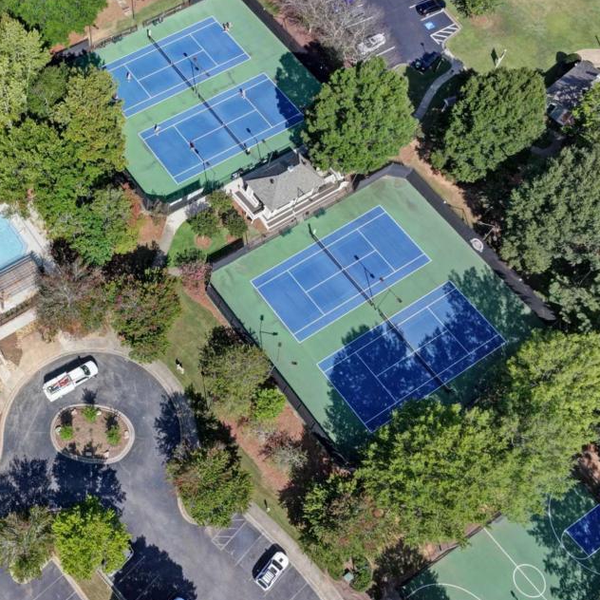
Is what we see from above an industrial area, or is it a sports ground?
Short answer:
sports ground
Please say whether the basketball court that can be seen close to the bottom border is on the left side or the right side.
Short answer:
right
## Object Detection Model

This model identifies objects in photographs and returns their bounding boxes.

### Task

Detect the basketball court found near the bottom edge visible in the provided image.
[382,454,600,600]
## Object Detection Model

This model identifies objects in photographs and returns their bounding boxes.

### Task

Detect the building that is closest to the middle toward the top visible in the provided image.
[205,150,345,239]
